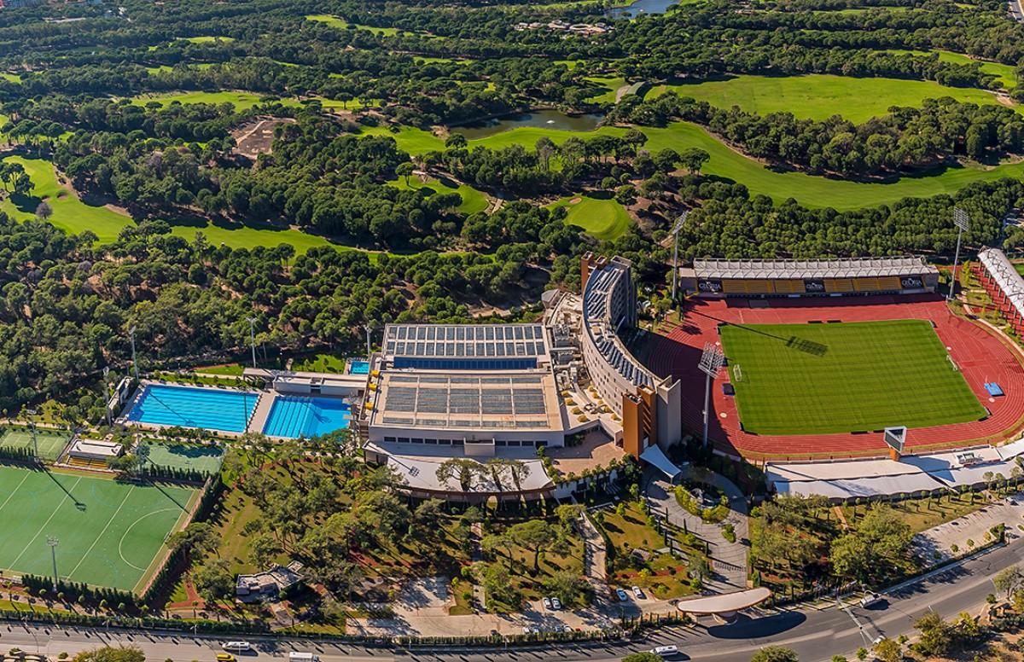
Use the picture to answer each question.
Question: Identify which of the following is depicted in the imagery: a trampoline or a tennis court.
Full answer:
Of the two, only a tennis court appears.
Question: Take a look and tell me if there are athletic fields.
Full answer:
Yes, the picture does show an athletic field.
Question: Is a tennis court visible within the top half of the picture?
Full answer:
No, no tennis court is visible within the top half of the picture.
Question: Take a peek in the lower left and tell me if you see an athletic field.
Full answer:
Yes, an athletic field is visible in the lower left.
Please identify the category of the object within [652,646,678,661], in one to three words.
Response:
vehicle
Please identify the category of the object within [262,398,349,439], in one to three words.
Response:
swimming pool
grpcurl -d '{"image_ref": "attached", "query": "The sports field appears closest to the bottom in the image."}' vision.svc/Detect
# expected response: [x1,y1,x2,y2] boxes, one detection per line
[0,467,194,590]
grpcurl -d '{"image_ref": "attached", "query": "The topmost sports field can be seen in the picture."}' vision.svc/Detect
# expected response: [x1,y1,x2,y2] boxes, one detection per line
[720,319,989,433]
